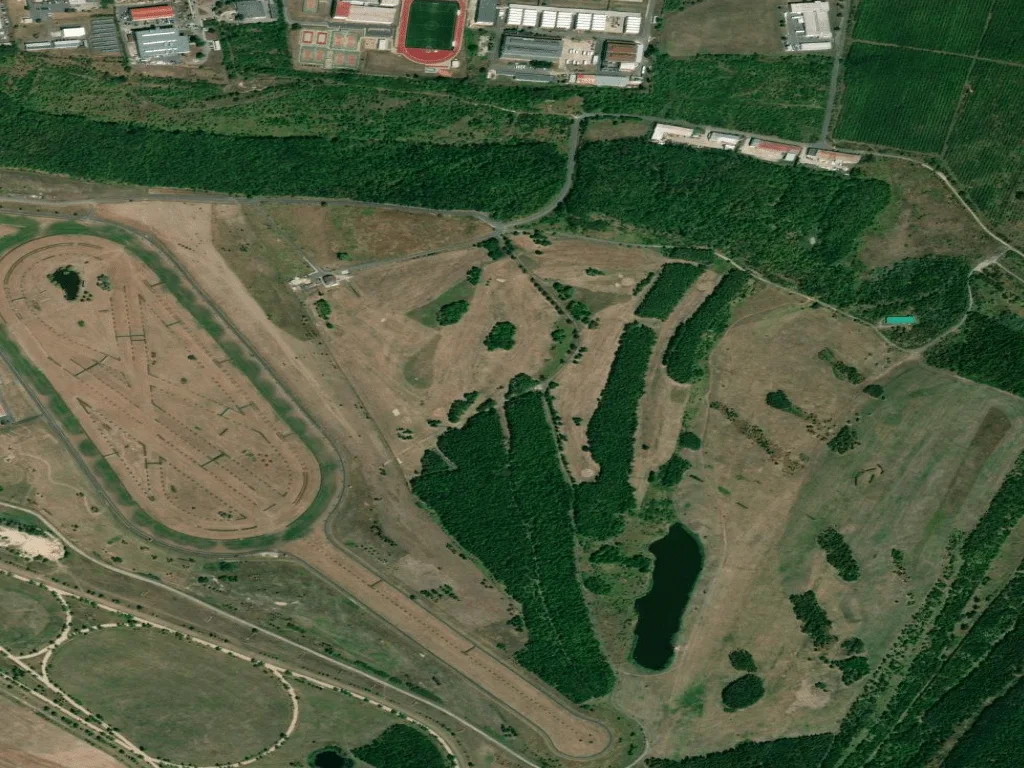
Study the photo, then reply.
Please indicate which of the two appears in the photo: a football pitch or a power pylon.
football pitch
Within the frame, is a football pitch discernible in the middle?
No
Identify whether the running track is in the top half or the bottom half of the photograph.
top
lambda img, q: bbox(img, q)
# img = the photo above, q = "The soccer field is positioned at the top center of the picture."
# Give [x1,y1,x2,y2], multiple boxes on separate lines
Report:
[405,1,459,50]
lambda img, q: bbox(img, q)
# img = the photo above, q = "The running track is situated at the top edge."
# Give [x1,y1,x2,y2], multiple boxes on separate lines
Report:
[396,0,469,66]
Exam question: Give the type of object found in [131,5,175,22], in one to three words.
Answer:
building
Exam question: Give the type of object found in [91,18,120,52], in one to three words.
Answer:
greenhouse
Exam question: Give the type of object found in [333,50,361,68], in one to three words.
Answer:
sports court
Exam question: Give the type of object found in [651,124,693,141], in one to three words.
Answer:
building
